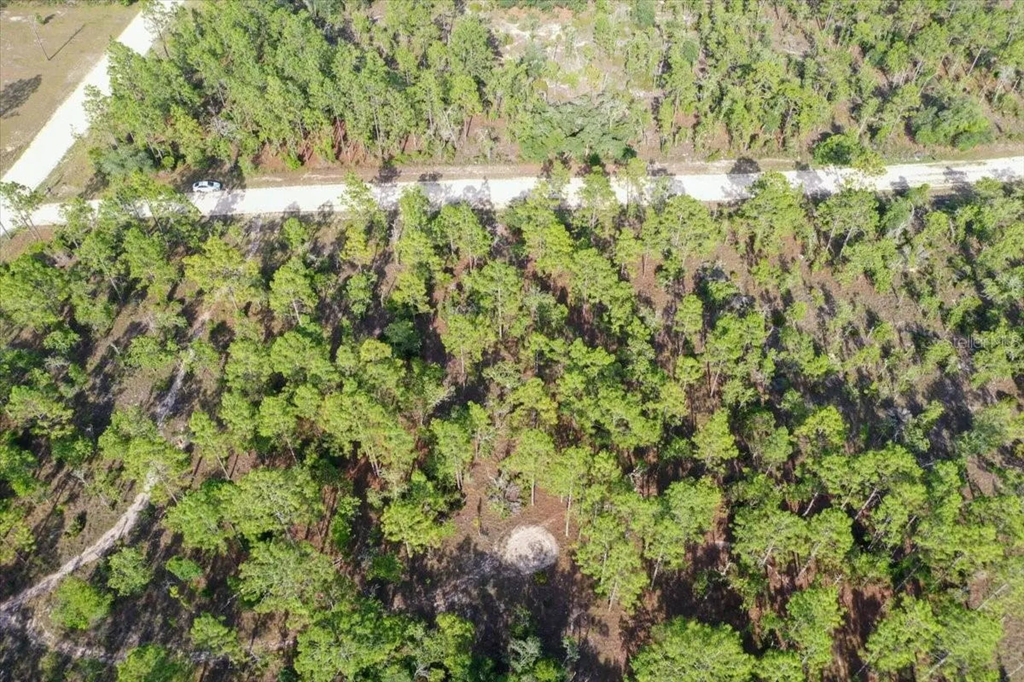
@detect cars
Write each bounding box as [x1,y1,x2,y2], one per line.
[191,181,222,193]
